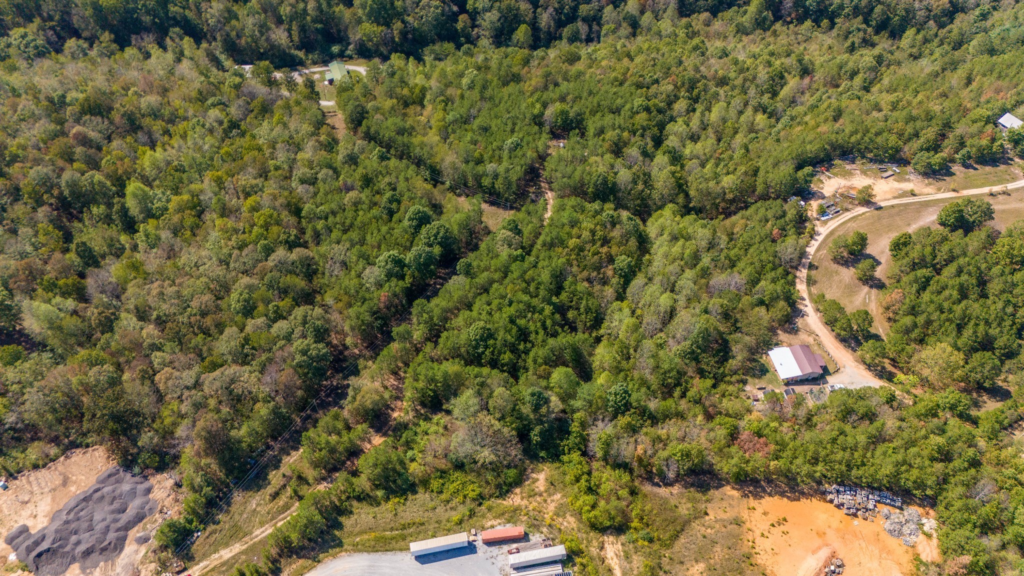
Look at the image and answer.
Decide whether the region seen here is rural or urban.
rural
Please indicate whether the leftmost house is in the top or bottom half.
top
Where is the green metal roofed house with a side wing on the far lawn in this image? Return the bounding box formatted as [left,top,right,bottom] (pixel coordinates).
[326,63,355,91]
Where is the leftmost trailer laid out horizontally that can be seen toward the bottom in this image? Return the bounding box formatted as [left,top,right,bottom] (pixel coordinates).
[410,532,468,557]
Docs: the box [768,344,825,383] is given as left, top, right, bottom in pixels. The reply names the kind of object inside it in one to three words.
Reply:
house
